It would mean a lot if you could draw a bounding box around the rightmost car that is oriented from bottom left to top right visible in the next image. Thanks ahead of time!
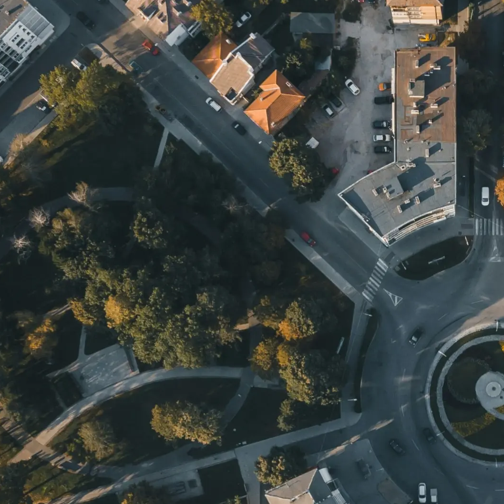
[410,328,423,344]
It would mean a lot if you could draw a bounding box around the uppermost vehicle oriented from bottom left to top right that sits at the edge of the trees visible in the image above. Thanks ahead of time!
[236,12,253,29]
